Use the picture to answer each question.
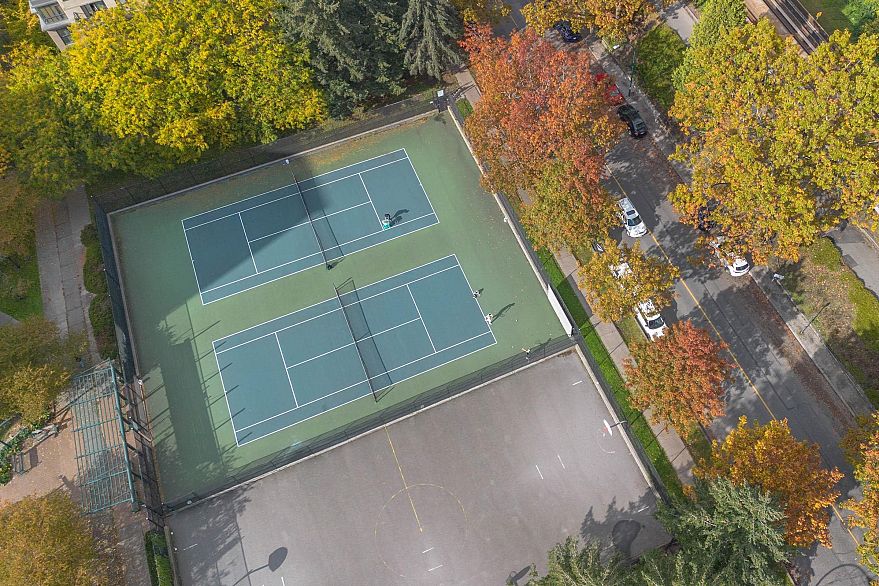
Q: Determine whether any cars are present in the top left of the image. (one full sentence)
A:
No, there's no car to be seen in the top left of the image.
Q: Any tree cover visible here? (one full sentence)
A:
Yes, some tree cover is visible.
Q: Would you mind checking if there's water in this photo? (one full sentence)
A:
No, the picture contains no water.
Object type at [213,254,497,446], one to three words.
tennis court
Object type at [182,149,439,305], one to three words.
tennis court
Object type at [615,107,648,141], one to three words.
car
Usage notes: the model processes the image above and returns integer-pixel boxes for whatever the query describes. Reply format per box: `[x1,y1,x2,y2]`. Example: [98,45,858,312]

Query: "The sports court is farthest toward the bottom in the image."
[170,351,670,586]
